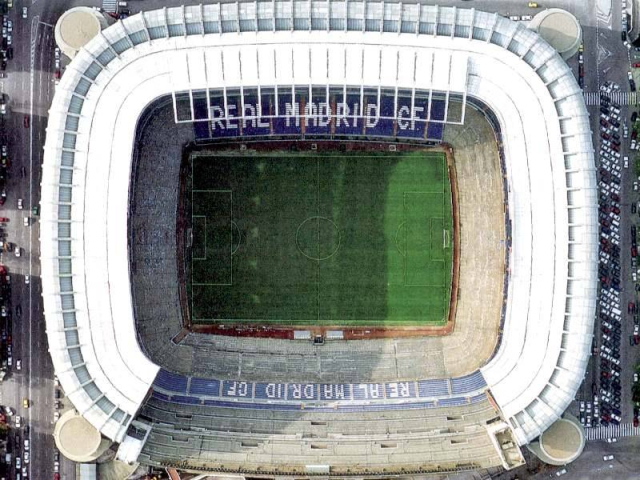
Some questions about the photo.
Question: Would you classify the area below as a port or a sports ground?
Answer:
sports ground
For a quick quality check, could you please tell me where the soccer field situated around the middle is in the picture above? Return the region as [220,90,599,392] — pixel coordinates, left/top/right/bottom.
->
[176,139,459,339]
